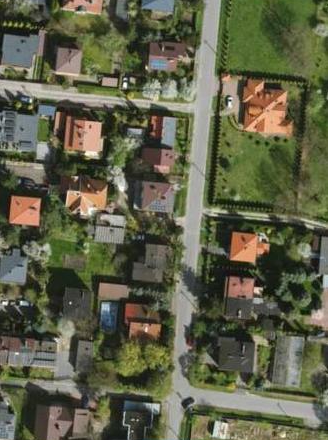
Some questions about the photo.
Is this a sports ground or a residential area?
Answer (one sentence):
This image shows a residential area.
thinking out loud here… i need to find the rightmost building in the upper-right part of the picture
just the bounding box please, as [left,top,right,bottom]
[240,79,293,138]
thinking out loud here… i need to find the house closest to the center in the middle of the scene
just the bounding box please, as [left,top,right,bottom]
[141,181,176,216]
